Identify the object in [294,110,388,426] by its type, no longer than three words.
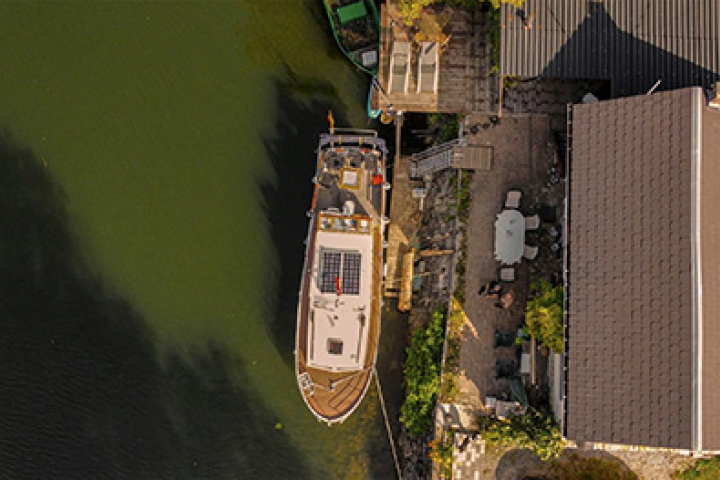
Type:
boat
